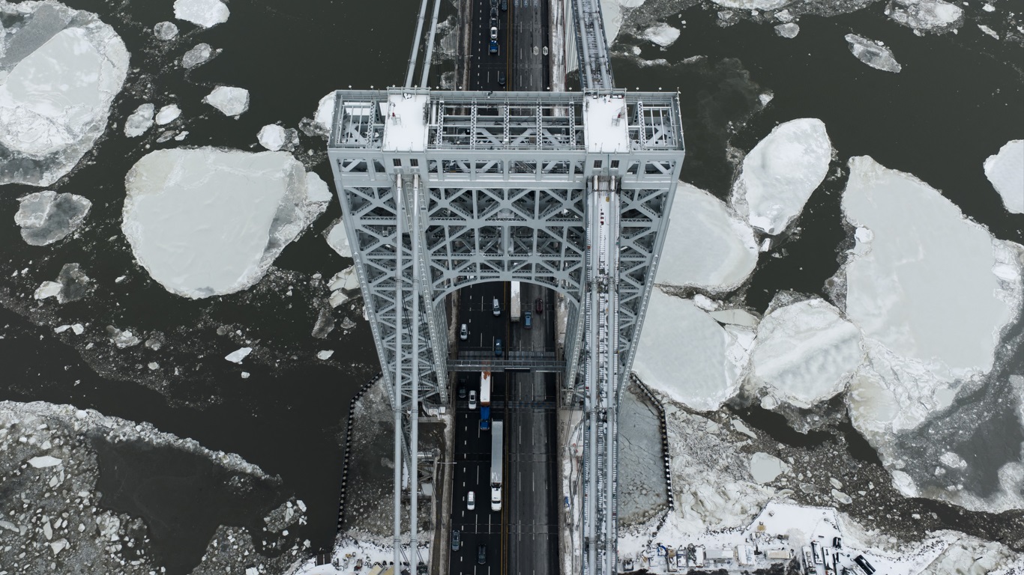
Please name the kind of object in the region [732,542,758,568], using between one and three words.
shed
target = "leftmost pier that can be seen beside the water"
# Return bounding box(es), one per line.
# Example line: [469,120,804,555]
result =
[308,548,333,570]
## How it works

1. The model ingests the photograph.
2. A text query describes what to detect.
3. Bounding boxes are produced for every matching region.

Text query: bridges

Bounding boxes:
[325,0,687,575]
